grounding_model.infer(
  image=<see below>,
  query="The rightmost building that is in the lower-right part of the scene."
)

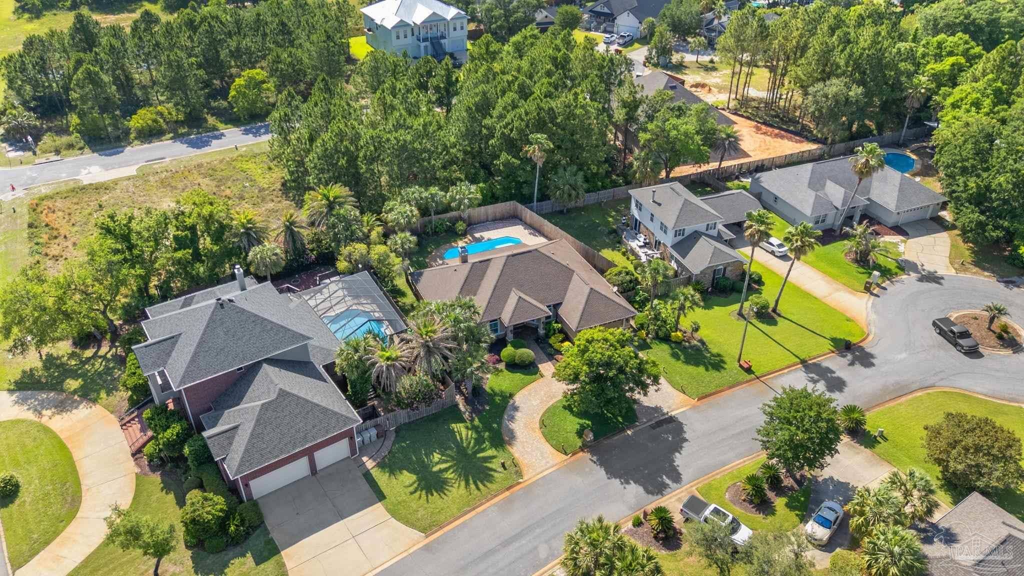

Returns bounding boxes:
[888,490,1024,576]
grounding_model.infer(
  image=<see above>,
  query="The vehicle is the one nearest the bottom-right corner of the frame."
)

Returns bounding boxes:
[805,495,844,545]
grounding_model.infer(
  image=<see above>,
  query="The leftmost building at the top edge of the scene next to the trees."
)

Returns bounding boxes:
[359,0,468,65]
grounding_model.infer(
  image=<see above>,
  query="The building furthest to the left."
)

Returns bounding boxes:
[128,258,366,500]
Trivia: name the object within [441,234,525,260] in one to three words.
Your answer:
swimming pool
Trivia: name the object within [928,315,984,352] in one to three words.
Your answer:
truck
